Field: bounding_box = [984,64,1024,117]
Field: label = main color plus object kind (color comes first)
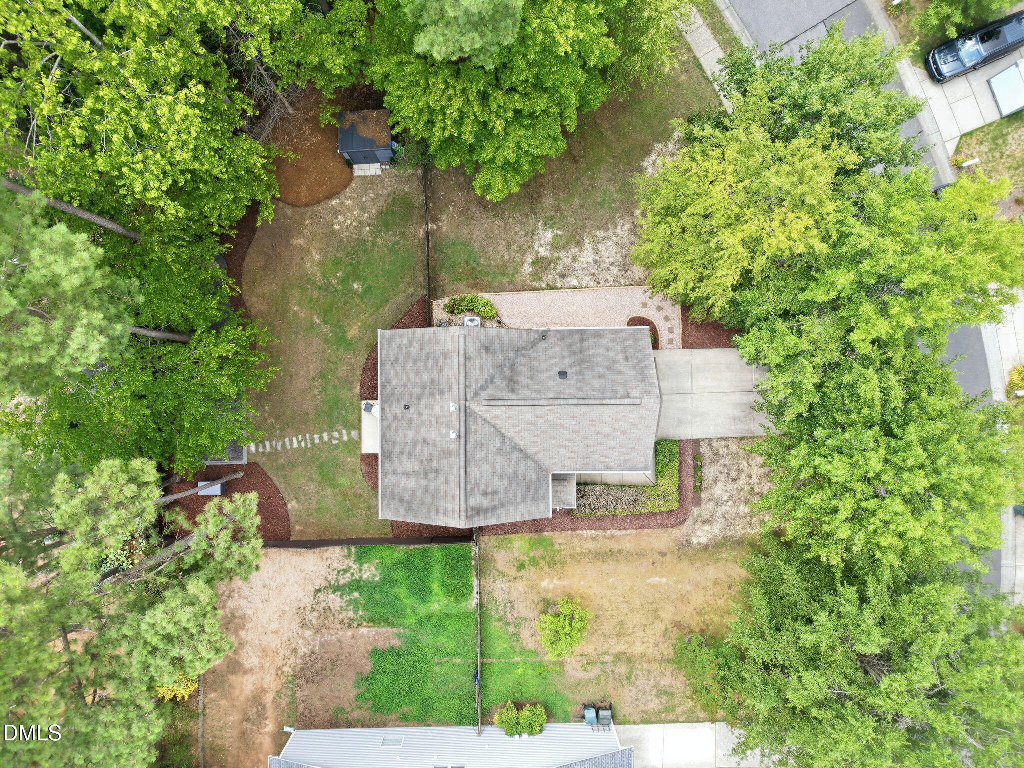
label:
white trailer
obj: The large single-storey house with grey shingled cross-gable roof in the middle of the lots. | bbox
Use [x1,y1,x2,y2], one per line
[379,325,662,528]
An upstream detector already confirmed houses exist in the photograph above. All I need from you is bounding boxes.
[379,325,662,528]
[267,723,632,768]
